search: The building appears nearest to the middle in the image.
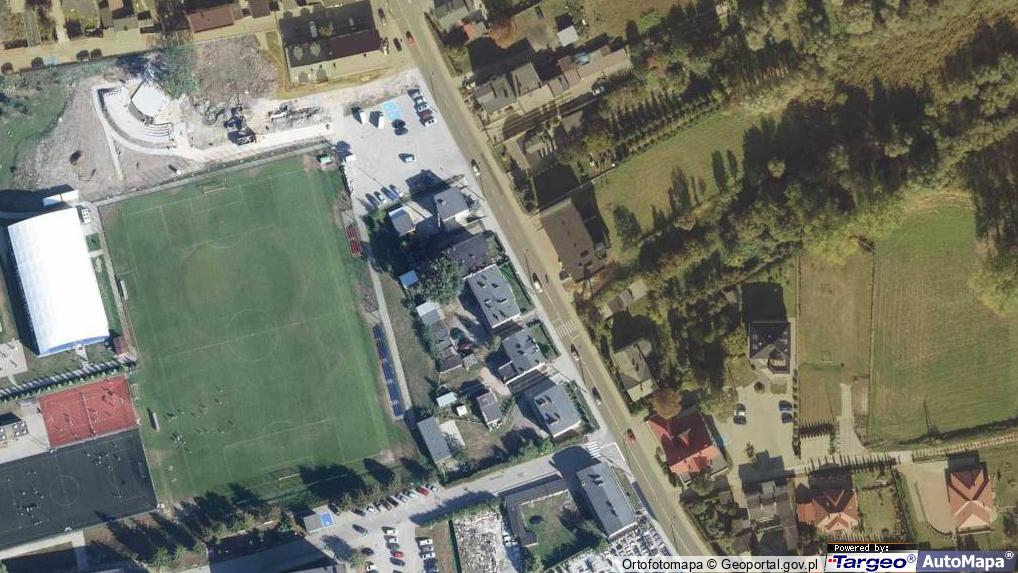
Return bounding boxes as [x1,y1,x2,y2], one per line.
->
[464,263,523,330]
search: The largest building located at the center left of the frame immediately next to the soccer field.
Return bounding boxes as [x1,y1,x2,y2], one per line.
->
[8,209,108,359]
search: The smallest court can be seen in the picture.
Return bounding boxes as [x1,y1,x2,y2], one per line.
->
[38,377,139,447]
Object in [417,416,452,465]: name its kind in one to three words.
barn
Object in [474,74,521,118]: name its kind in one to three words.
house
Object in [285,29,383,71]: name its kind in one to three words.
building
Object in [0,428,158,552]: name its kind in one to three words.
sports court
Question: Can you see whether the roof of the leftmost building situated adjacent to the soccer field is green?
No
